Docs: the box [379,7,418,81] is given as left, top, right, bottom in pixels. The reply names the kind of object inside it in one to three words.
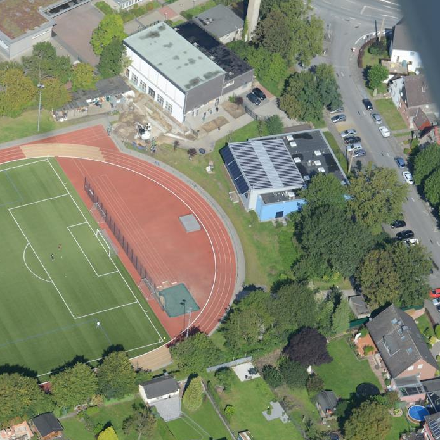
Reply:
house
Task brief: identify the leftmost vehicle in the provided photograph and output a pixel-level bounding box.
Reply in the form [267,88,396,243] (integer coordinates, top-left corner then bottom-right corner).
[133,123,152,137]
